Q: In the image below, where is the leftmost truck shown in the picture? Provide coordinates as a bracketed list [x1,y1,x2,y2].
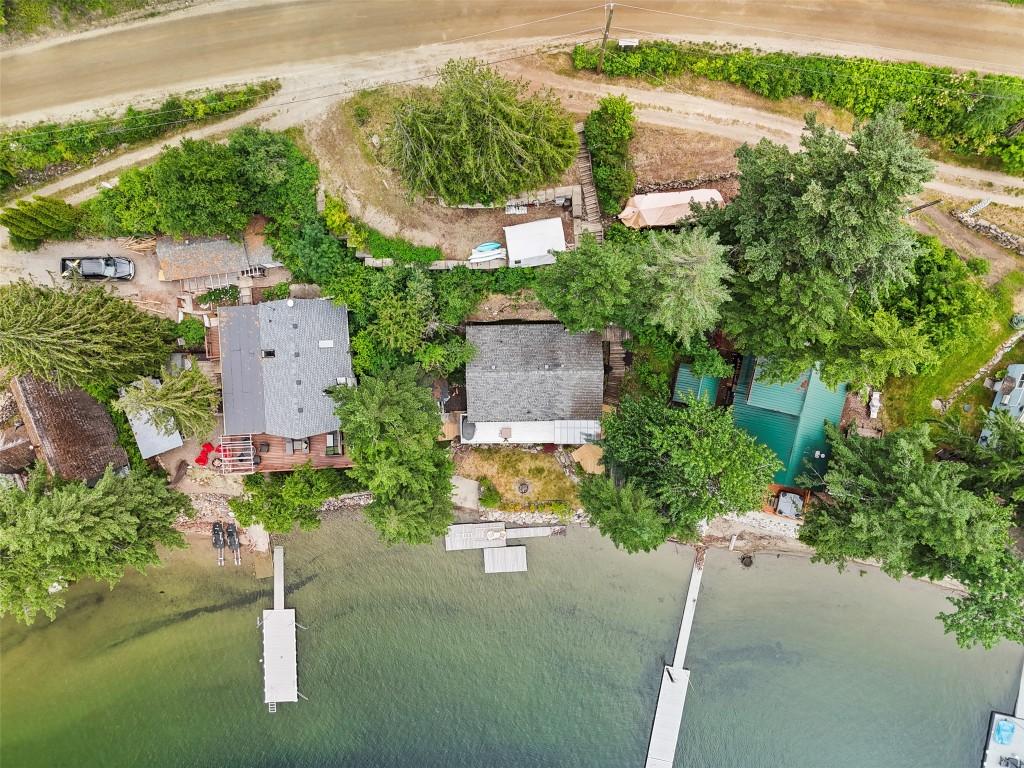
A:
[61,251,134,282]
